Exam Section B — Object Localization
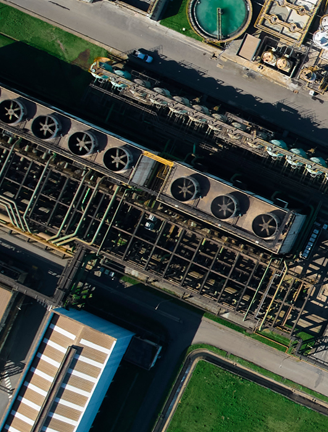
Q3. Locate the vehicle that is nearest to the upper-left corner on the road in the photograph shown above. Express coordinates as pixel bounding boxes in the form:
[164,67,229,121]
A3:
[132,49,152,62]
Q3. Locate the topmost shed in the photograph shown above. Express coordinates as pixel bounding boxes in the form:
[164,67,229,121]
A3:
[240,34,263,58]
